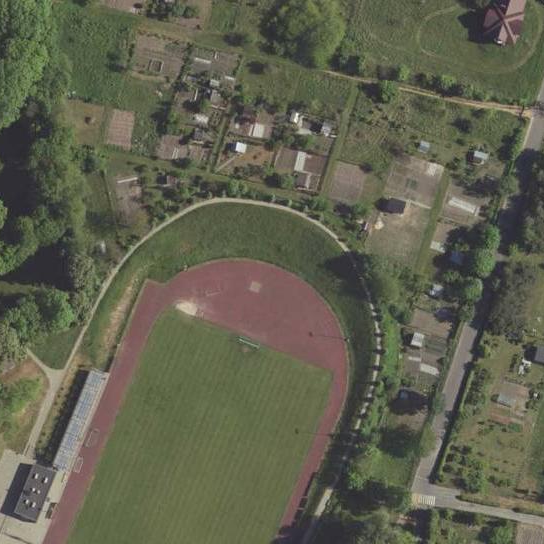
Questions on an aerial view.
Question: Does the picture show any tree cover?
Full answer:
Yes, some tree cover is visible.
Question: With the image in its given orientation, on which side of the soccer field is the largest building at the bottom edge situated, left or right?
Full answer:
You can see the largest building at the bottom edge positioned to the left of the soccer field.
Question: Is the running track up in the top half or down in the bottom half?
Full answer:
You can find the running track in the bottom half.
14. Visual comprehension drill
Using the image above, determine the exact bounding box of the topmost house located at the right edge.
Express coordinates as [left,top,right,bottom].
[480,0,528,44]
